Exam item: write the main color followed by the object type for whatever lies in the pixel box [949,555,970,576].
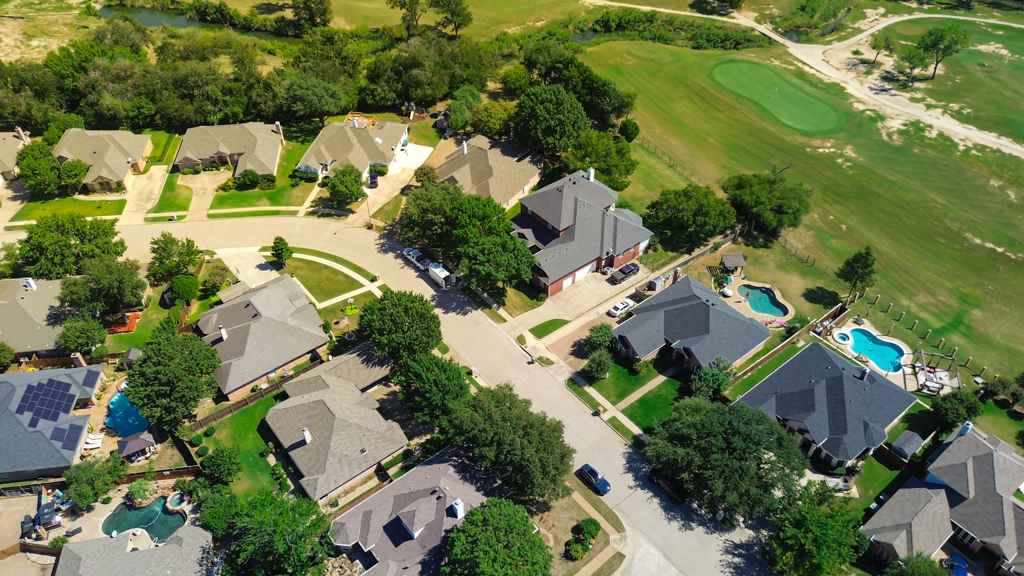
blue car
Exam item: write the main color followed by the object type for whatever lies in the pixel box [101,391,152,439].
blue swimming pool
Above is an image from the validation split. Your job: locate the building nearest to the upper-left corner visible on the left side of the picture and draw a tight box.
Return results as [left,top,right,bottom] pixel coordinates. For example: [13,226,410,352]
[0,126,32,182]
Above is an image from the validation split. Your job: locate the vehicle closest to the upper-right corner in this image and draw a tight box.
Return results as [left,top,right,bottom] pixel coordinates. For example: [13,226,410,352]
[610,262,639,280]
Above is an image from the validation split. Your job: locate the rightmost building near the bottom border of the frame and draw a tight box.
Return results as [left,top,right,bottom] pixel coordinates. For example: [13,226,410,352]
[864,418,1024,576]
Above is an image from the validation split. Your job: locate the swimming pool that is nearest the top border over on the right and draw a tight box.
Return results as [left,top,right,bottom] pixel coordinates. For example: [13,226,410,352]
[735,283,790,318]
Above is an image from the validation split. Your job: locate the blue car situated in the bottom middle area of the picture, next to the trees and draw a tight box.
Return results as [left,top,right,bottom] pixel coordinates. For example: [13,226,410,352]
[579,463,612,495]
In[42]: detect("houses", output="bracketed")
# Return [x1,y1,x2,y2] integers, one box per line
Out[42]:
[612,266,771,375]
[509,166,654,293]
[296,118,409,183]
[864,418,1024,576]
[436,135,544,213]
[197,273,330,402]
[265,343,409,500]
[0,126,32,182]
[756,342,919,471]
[55,527,226,576]
[329,445,512,576]
[0,350,106,484]
[174,121,286,189]
[53,127,153,195]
